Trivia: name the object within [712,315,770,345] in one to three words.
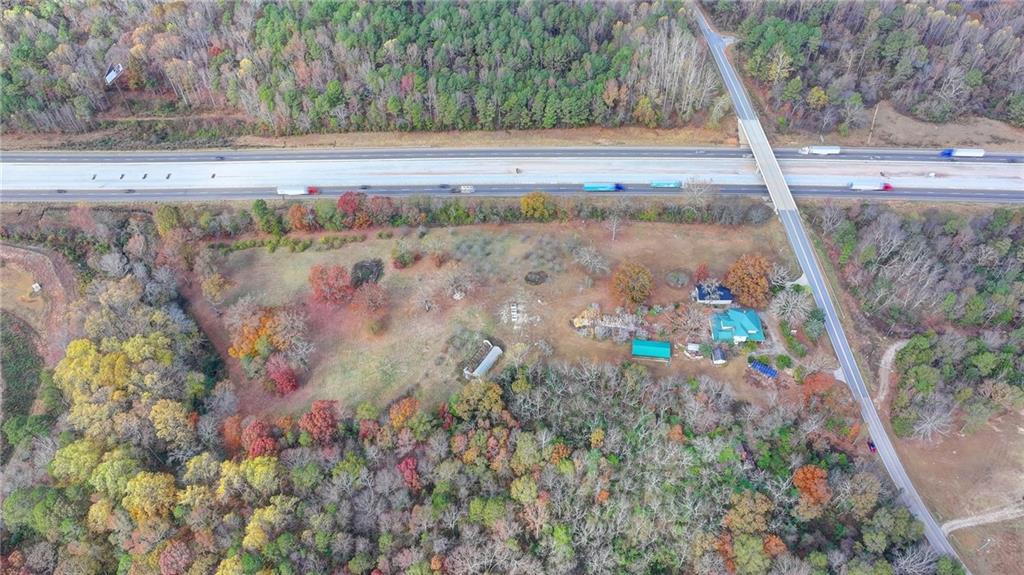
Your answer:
house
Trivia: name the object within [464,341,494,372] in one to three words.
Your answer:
house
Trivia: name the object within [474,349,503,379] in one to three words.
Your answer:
greenhouse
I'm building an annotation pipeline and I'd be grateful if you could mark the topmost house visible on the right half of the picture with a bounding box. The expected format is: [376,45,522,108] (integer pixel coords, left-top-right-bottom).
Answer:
[698,286,734,305]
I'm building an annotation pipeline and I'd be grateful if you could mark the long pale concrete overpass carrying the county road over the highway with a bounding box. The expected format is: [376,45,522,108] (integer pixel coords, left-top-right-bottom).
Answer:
[739,118,798,211]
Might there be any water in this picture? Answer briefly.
No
